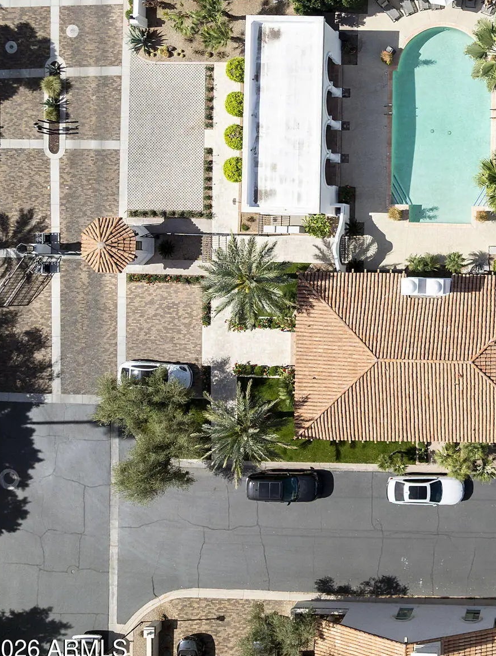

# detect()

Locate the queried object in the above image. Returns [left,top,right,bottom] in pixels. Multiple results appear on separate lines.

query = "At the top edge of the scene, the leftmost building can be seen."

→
[242,16,351,215]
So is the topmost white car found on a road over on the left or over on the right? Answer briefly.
right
